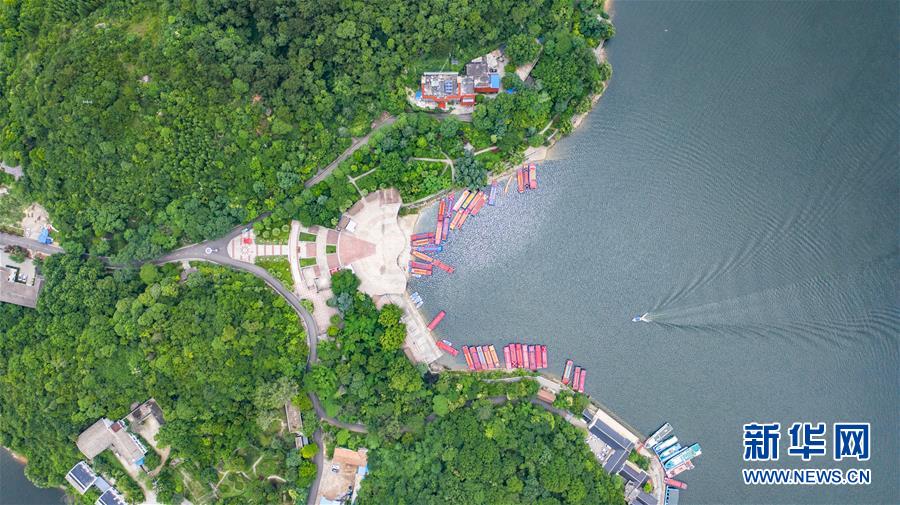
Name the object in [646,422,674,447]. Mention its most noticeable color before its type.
white boat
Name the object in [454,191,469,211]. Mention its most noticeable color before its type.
white boat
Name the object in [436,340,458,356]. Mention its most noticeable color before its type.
red boat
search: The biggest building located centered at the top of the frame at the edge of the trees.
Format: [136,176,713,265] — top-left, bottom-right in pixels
[422,72,461,107]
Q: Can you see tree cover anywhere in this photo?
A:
Yes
